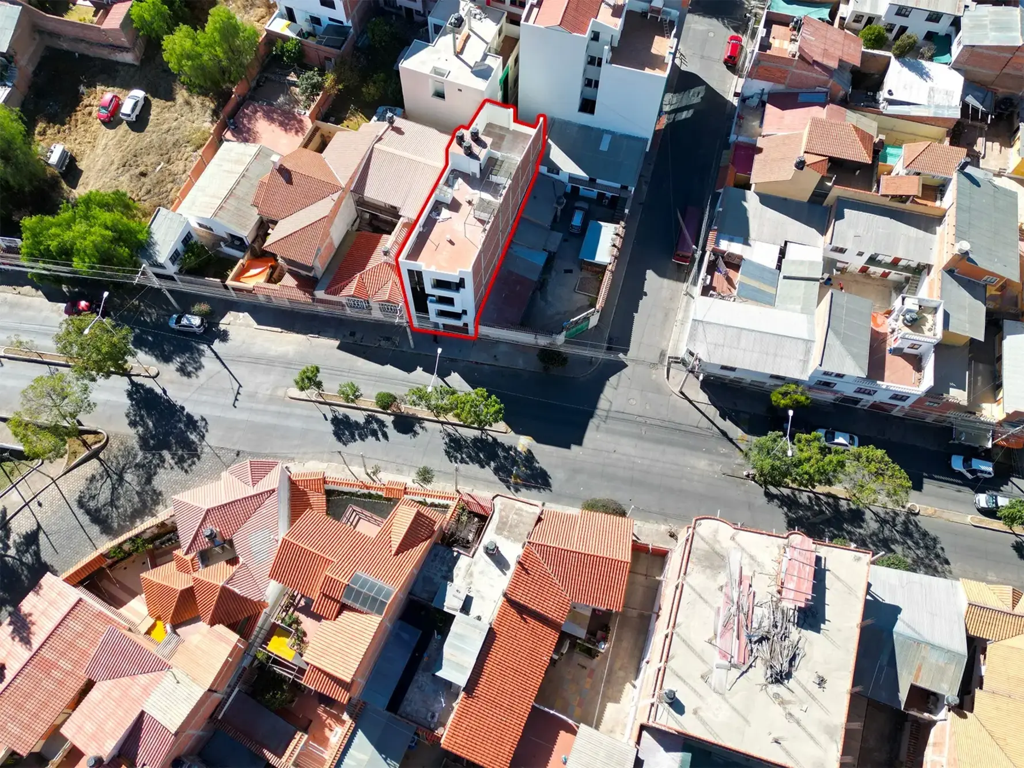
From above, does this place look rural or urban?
urban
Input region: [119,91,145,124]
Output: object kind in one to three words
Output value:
car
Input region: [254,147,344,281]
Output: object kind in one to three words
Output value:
house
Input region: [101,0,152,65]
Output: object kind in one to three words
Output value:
house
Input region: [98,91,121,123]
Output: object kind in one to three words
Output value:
car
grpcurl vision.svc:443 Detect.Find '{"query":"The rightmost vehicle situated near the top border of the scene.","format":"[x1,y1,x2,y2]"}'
[723,36,742,68]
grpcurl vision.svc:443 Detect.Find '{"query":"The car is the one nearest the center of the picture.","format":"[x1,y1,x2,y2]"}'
[567,201,589,236]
